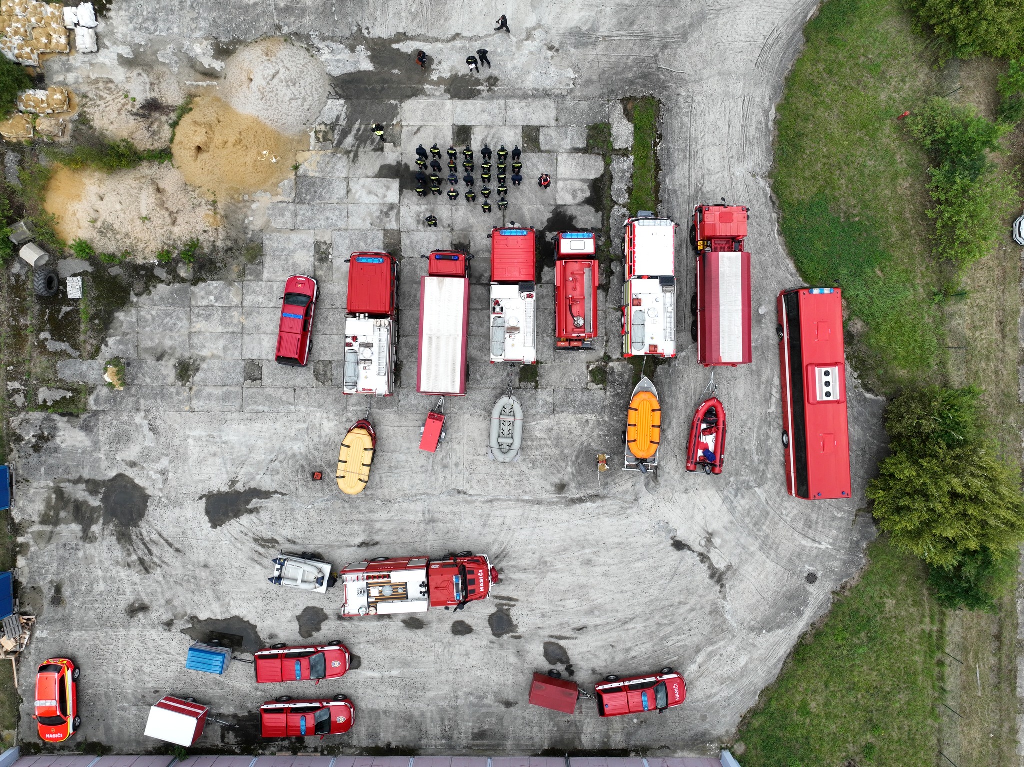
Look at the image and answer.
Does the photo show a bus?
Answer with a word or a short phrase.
Yes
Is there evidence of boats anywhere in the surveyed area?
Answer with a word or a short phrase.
Yes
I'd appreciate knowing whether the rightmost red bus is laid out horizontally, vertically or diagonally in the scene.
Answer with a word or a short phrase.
vertically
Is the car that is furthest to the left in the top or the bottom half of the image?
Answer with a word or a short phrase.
bottom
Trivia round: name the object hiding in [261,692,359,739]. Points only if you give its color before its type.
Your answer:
red truck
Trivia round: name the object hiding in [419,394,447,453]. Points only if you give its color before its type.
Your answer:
red trailer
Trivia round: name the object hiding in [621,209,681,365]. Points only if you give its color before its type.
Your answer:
white truck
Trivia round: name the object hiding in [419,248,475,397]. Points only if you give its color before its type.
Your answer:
white truck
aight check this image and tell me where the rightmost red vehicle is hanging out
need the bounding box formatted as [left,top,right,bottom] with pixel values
[777,281,849,498]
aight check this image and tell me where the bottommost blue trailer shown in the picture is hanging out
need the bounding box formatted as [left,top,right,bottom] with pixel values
[186,638,256,674]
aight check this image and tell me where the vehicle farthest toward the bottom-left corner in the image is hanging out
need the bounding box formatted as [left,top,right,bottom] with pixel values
[34,654,83,738]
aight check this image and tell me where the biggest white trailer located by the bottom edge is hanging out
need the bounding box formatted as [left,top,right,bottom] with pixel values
[144,692,234,747]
